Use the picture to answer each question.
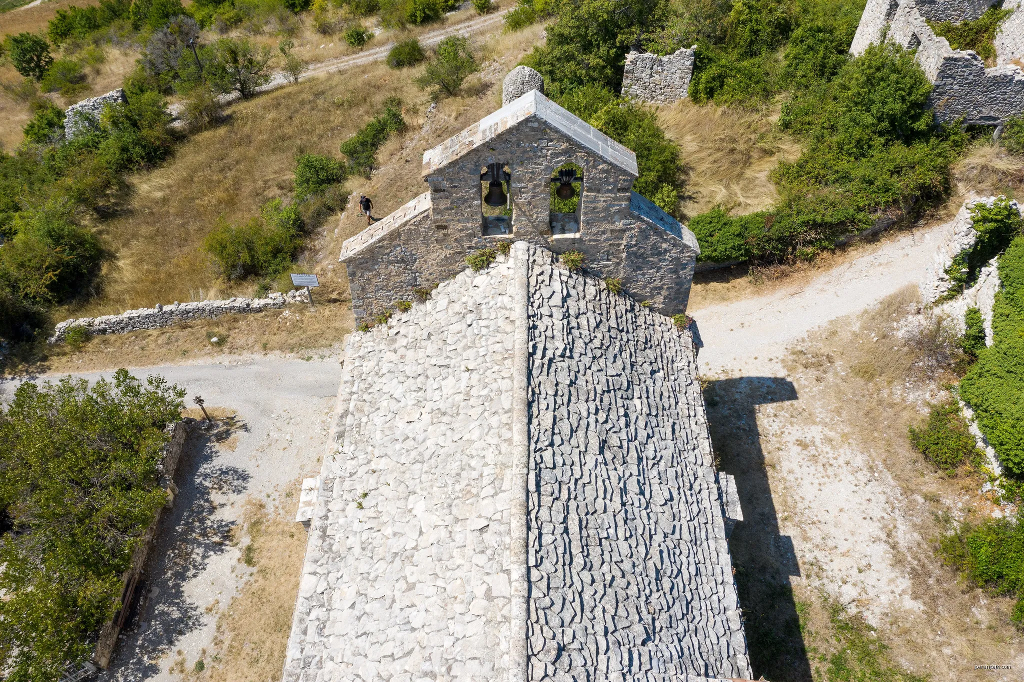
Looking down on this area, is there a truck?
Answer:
No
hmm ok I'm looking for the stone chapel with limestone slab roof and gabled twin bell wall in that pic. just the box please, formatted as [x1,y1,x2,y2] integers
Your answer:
[283,93,762,682]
